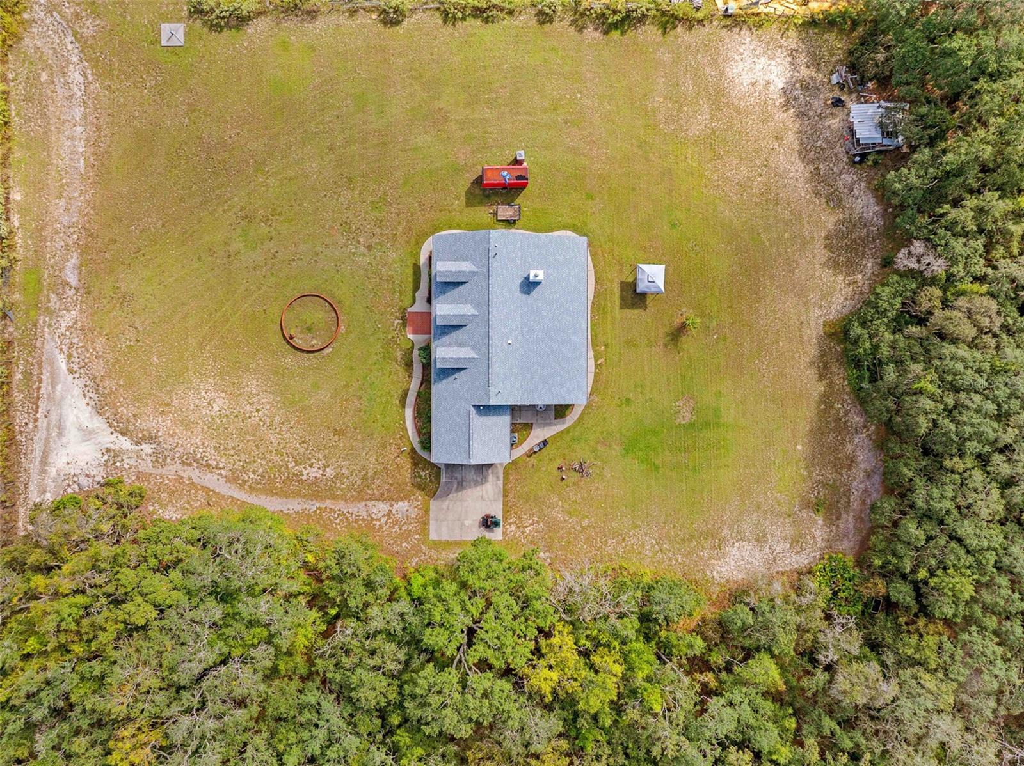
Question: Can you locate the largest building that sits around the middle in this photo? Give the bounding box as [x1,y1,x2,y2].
[432,230,588,464]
